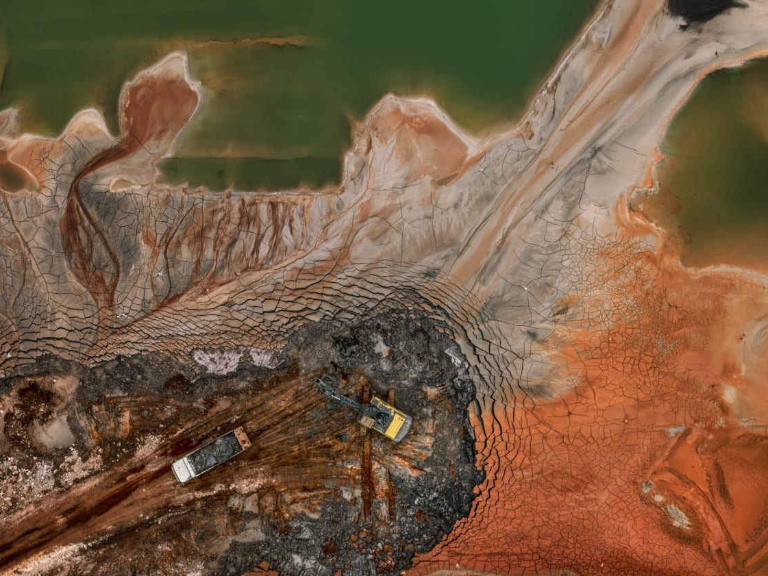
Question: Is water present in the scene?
Yes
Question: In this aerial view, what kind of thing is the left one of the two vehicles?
truck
